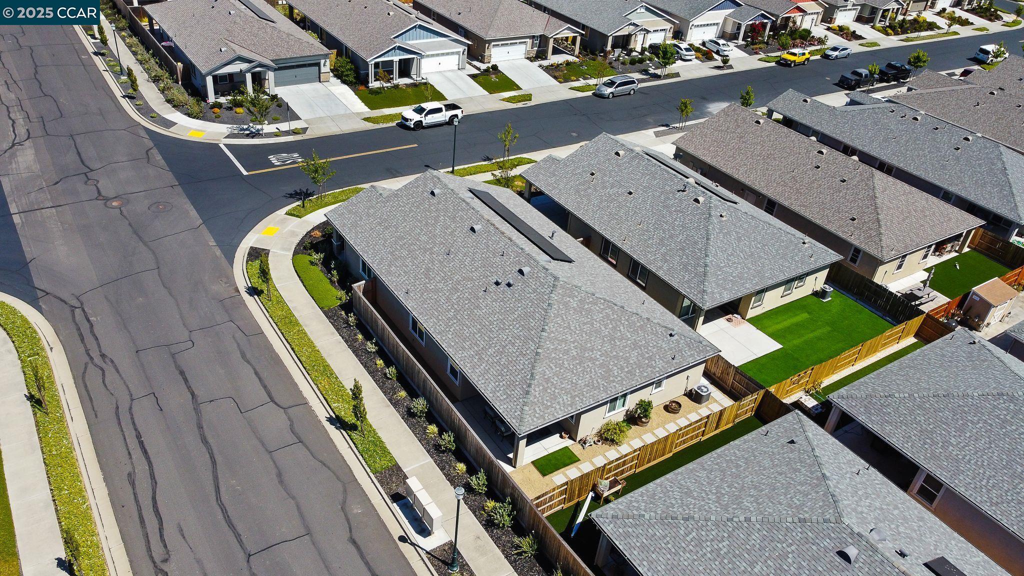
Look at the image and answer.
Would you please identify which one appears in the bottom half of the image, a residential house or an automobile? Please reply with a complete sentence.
The feature located in the bottom half of the image is a residential house.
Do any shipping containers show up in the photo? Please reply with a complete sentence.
No, I can't see a single shipping container in this photo.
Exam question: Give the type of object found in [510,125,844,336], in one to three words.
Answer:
house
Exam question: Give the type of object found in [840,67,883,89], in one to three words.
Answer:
truck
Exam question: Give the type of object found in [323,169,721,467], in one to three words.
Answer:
house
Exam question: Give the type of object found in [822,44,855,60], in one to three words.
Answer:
car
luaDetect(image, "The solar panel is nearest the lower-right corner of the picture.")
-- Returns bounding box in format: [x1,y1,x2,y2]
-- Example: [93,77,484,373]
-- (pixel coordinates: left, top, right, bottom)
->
[924,555,967,576]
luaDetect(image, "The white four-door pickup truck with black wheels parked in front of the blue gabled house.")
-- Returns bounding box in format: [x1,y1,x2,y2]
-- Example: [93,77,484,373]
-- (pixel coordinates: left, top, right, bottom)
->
[399,101,462,131]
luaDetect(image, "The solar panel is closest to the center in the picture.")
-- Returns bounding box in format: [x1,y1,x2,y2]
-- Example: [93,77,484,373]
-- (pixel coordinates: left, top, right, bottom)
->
[475,185,584,265]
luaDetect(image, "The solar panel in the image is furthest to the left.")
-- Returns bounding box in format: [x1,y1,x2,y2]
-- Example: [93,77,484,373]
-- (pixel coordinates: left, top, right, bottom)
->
[233,0,288,26]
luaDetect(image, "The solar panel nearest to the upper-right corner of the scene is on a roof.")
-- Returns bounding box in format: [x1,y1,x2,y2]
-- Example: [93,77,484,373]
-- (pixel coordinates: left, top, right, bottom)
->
[645,148,743,204]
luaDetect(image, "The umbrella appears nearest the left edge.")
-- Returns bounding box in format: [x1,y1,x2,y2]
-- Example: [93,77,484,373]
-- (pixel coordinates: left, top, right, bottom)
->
[571,483,593,537]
